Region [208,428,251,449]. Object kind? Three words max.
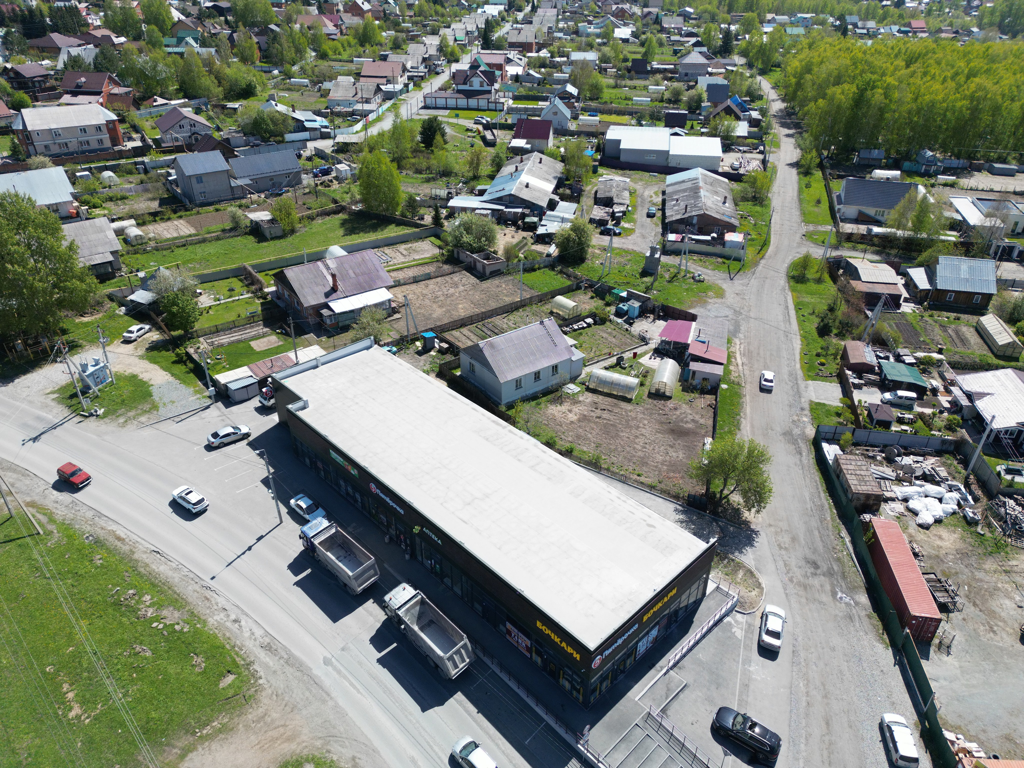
car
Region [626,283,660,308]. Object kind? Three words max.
shed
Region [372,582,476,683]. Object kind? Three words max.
truck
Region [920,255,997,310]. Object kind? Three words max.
house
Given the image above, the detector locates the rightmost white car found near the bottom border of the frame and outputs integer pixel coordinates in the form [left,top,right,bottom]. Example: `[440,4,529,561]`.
[879,709,922,768]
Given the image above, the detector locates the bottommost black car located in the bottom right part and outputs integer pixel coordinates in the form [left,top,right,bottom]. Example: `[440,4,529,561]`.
[709,710,782,762]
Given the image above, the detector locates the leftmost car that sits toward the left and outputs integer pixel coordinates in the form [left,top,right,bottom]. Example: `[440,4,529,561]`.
[57,462,93,490]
